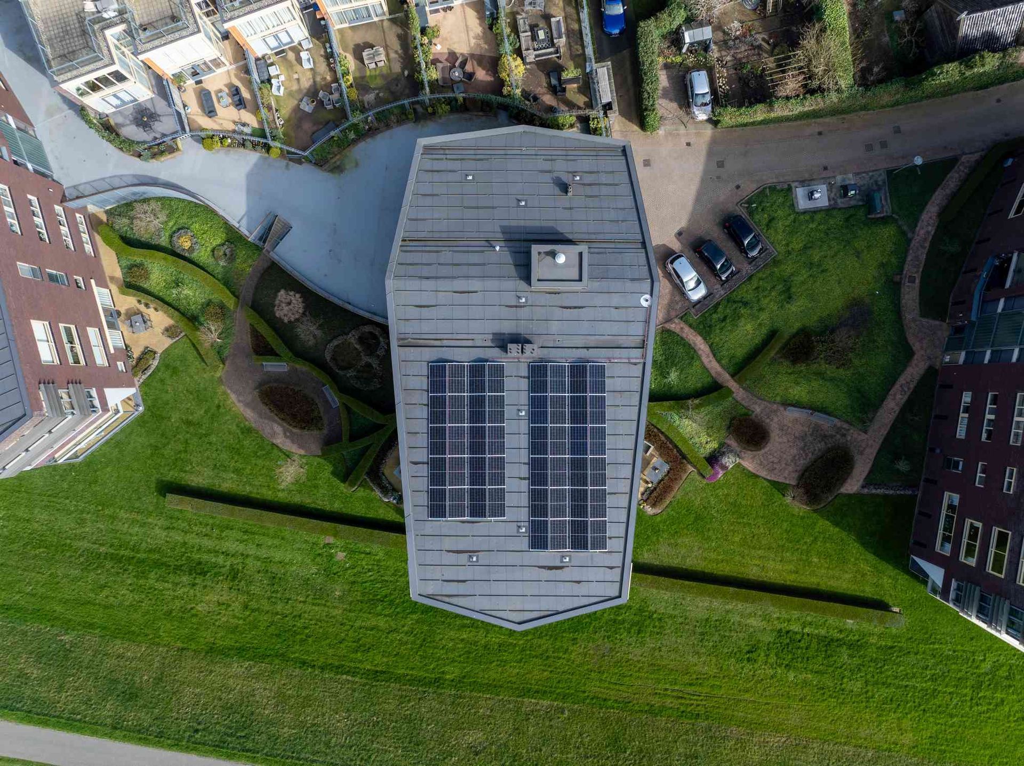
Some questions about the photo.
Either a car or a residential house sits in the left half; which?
residential house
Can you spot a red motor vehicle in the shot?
No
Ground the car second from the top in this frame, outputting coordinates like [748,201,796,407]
[683,69,714,123]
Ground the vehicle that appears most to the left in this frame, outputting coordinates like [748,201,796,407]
[600,0,629,37]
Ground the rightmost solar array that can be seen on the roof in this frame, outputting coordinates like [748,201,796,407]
[530,363,608,551]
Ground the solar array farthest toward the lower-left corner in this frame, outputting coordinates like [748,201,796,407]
[428,363,506,520]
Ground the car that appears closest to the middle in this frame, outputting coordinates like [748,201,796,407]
[663,248,707,306]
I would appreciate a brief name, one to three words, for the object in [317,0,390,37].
house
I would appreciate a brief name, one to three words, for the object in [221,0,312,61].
house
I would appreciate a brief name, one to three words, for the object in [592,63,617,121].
shed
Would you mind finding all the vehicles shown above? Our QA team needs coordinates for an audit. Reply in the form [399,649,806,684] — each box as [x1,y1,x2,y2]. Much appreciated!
[720,209,763,264]
[683,69,714,123]
[663,248,707,306]
[692,233,735,287]
[600,0,629,37]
